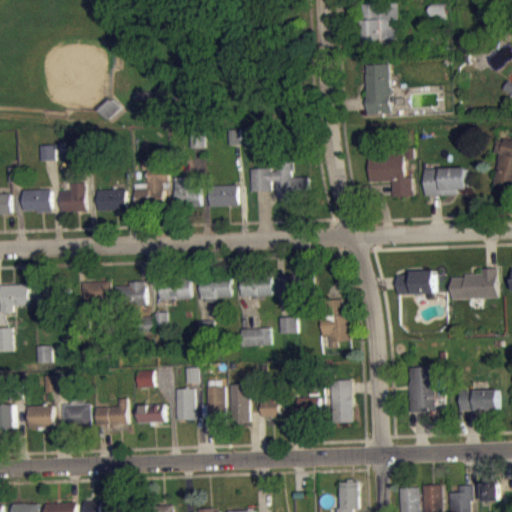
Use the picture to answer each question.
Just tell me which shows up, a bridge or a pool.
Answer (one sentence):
Looking from above, you can make out a pool.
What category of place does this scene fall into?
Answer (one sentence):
The picture captures a residential area.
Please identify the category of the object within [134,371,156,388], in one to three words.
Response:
building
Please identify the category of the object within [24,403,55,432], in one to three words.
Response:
house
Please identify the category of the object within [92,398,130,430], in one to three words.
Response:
house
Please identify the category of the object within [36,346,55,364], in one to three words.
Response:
shed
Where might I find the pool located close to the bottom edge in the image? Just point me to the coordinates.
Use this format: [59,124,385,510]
[320,494,340,509]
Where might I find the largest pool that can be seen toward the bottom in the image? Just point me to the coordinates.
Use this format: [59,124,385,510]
[414,293,448,324]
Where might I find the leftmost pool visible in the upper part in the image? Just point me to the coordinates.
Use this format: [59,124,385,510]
[390,86,444,116]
